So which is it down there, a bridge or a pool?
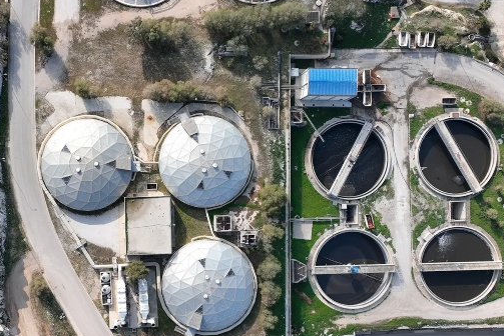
bridge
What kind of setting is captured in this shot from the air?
industrial area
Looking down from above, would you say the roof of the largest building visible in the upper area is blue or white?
blue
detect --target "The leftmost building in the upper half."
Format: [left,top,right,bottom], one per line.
[292,67,360,110]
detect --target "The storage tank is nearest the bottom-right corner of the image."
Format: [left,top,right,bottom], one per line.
[413,223,503,309]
